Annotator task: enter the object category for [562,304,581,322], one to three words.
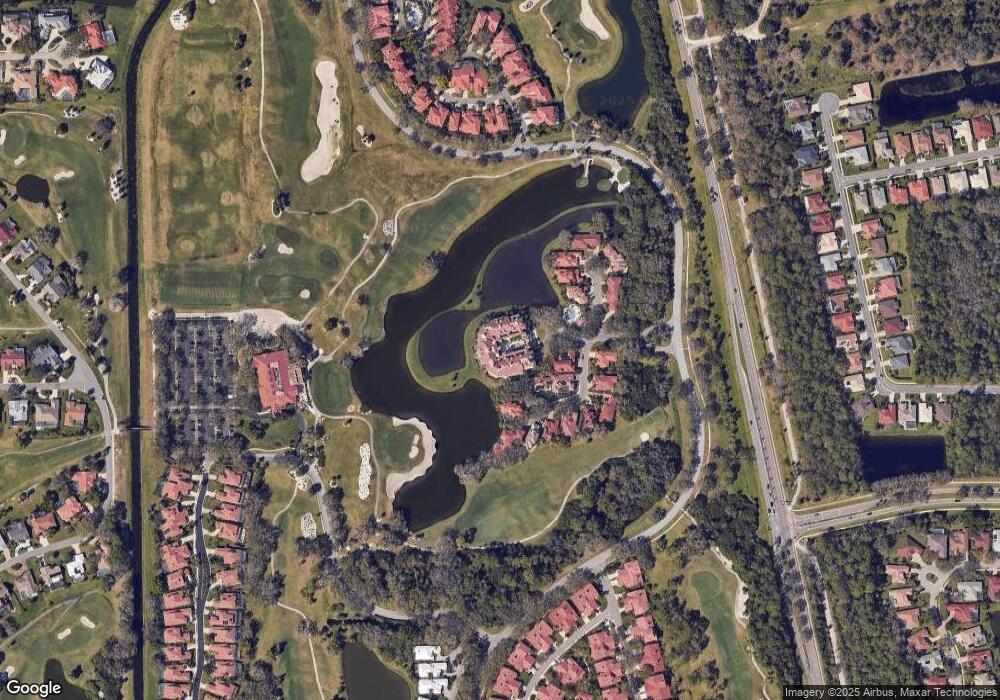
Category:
swimming pool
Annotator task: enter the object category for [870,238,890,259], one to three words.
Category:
house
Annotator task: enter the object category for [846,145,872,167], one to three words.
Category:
house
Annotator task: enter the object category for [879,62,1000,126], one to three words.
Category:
pond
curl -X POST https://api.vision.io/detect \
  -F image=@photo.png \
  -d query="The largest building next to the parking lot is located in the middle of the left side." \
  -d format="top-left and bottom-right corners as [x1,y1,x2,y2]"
[250,350,296,412]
